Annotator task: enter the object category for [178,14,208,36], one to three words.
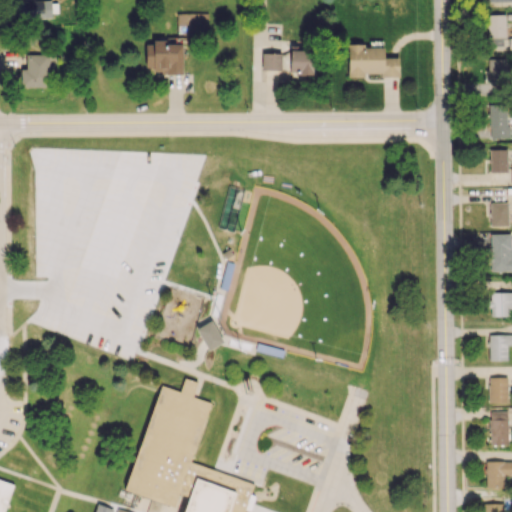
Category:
shed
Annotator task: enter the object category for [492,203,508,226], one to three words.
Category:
house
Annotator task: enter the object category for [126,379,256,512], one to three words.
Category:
building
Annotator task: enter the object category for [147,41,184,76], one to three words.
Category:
house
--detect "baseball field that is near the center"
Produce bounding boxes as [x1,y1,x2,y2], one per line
[220,187,372,371]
